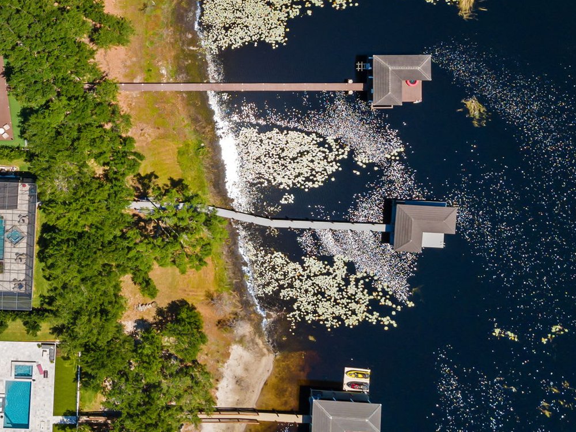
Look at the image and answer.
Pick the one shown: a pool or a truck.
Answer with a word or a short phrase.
pool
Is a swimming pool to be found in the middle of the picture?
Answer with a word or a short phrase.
No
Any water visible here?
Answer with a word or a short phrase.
Yes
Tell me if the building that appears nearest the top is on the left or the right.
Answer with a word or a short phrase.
right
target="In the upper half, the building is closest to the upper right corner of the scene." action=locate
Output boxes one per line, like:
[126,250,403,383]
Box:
[363,54,432,108]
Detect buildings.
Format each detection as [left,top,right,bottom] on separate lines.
[363,54,432,108]
[298,387,383,432]
[381,200,459,253]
